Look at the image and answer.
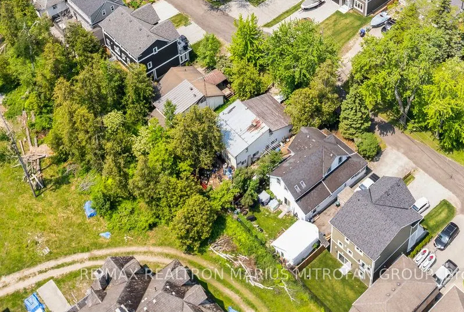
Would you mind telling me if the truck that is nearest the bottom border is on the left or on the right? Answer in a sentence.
The truck that is nearest the bottom border appears in the right half of the scene.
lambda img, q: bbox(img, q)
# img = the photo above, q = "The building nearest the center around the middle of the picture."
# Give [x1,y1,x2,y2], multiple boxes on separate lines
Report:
[214,95,288,162]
